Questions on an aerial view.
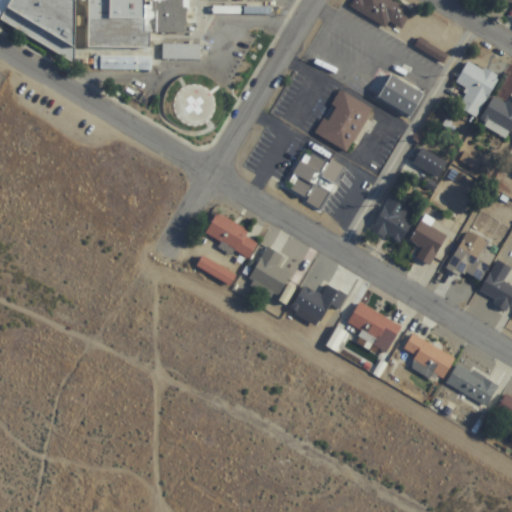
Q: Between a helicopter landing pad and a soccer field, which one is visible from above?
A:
helicopter landing pad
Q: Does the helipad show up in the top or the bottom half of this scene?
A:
top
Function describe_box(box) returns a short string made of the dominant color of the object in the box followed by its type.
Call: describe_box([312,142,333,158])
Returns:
white vehicle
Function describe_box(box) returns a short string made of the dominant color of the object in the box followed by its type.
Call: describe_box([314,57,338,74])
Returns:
white vehicle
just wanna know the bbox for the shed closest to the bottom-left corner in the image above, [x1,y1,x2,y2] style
[196,256,237,286]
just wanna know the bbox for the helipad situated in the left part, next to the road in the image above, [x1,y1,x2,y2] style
[164,74,224,134]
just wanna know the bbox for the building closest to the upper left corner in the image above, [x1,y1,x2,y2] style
[0,0,74,60]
